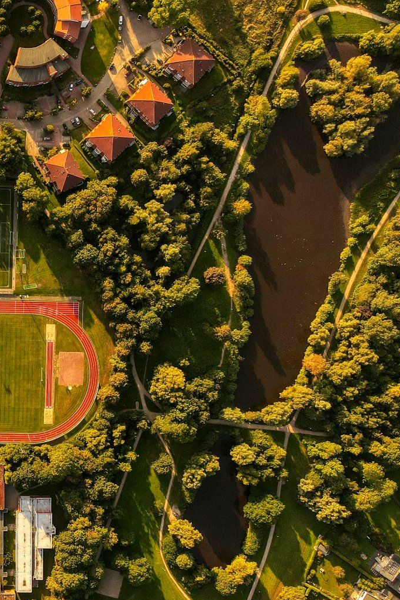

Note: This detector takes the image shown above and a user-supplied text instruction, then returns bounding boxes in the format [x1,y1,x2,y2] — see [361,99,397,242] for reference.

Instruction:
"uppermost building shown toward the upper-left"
[52,0,90,46]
